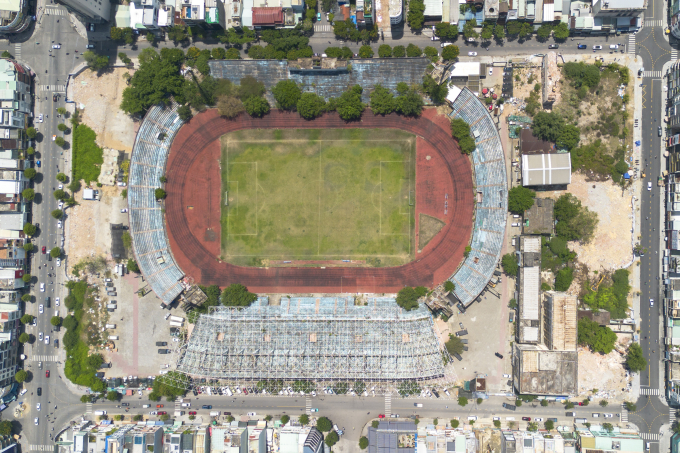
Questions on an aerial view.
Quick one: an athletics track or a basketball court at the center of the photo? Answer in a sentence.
Visible at the center of the photo is an athletics track.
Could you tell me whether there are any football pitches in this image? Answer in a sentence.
Yes, you can see a football pitch in this photo.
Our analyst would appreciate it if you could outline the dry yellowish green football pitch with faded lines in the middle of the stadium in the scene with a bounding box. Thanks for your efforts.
[221,128,416,267]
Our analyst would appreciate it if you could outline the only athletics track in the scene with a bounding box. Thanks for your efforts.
[165,108,475,293]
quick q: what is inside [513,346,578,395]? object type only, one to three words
house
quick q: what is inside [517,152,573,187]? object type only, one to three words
building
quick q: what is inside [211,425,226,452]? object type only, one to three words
house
